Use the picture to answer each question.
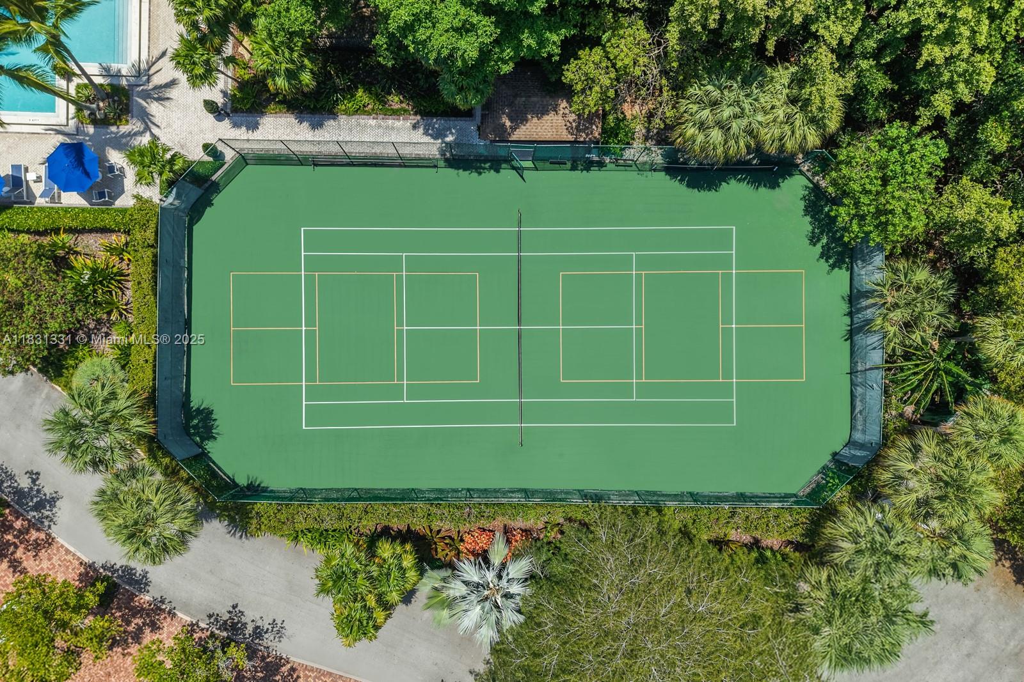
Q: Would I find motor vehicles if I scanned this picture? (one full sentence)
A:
No, I find no motor vehicle anywhere in the image.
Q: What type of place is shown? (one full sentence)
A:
The area seen from above is a sports ground.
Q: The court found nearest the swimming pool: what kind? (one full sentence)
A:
I'd say the court found nearest the swimming pool is a tennis court.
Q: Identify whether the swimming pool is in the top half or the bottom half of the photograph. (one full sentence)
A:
It is in the top half that the swimming pool appears.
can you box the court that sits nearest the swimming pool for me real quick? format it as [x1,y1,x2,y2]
[186,156,848,493]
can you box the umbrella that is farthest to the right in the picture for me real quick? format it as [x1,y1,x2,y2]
[48,142,104,194]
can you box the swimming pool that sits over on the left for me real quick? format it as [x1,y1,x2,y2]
[0,0,150,133]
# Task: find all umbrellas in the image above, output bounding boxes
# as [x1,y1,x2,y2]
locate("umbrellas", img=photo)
[48,142,104,194]
[0,171,12,200]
